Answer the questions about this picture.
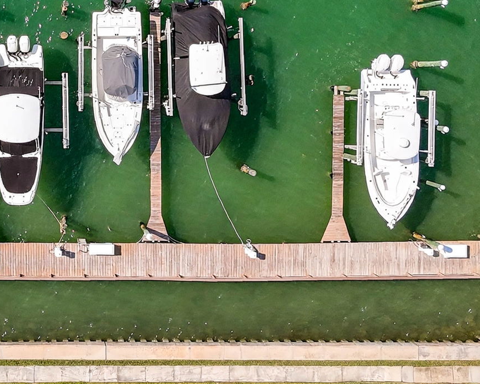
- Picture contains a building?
No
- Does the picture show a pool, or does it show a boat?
boat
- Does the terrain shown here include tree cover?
No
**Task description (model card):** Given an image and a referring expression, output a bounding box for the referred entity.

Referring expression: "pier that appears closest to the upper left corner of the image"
[140,17,169,244]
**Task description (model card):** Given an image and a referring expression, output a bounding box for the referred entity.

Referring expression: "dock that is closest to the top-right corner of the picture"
[320,94,350,244]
